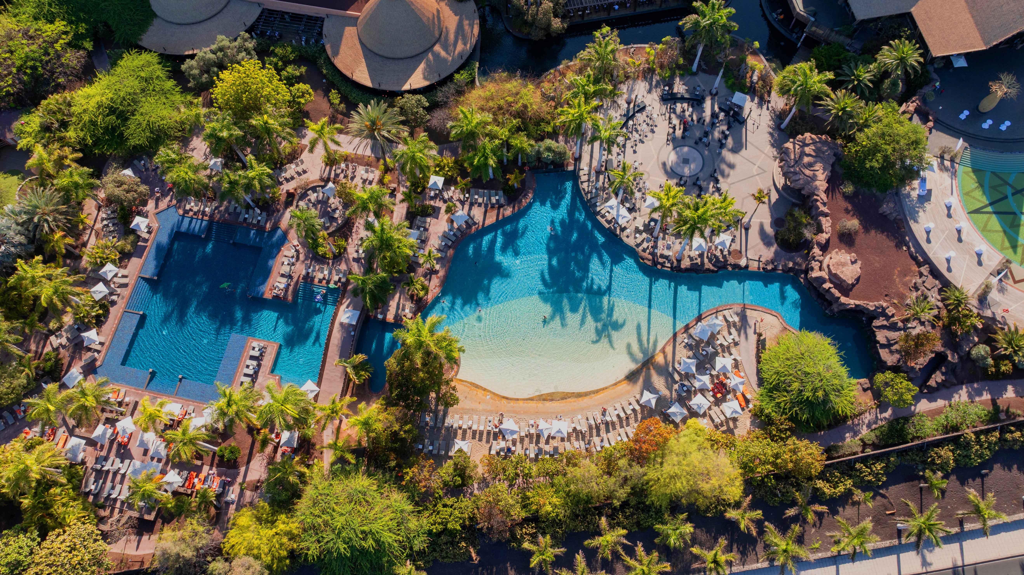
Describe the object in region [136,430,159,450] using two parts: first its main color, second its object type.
white umbrella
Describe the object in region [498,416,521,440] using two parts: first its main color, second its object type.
white umbrella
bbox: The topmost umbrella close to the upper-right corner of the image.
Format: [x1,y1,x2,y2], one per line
[946,55,968,75]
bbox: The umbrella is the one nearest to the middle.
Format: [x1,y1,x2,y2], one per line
[449,208,471,229]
